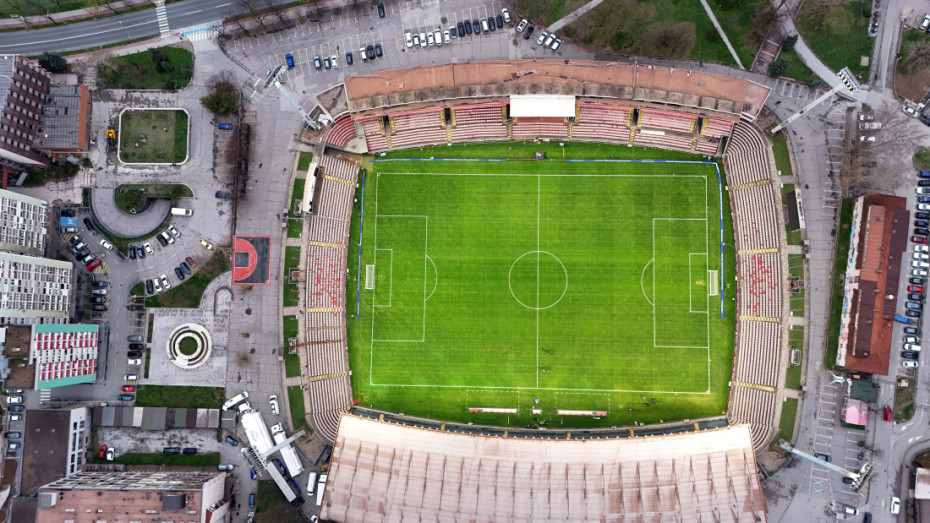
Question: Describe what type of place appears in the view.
sports ground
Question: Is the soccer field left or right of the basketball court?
right of it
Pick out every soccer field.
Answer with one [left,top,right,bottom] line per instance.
[349,140,736,427]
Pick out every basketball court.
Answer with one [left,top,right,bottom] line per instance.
[233,236,272,285]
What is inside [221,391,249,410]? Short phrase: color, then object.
white vehicle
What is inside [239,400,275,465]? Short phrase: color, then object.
white truck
